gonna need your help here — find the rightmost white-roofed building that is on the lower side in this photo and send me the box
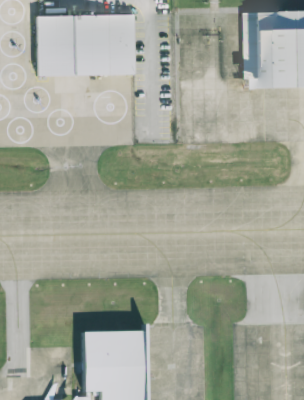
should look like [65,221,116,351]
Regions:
[82,326,150,400]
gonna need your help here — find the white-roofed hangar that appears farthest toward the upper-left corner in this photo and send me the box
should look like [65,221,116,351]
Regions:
[36,16,136,78]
